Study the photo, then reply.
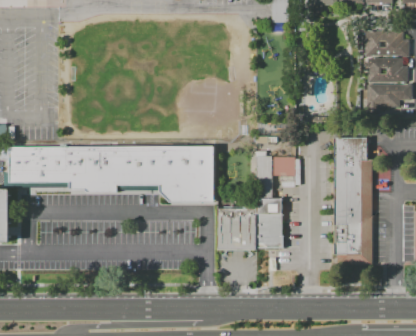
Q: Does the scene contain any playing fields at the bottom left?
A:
No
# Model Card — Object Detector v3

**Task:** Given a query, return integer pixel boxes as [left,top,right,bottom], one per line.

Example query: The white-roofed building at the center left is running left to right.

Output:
[4,147,218,206]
